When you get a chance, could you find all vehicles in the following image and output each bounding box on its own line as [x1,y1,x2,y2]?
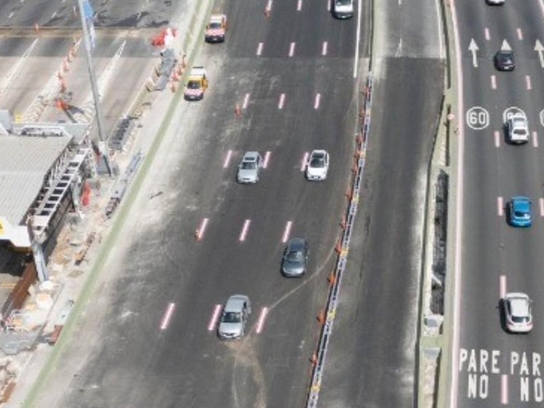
[506,193,534,223]
[306,141,333,177]
[506,113,530,140]
[504,286,536,329]
[237,144,265,179]
[205,7,228,39]
[494,49,515,70]
[332,0,355,15]
[219,287,253,335]
[282,235,312,275]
